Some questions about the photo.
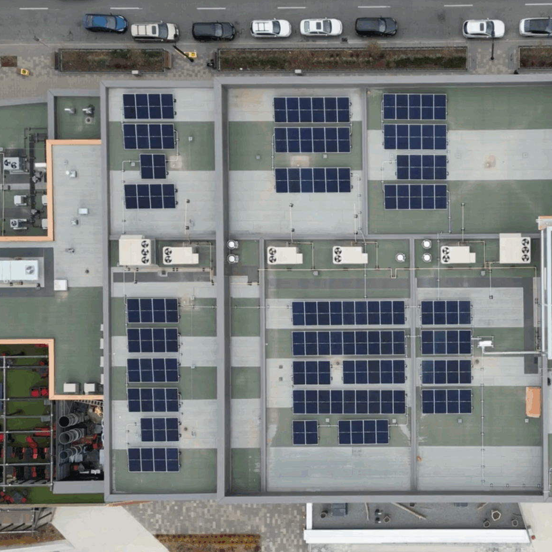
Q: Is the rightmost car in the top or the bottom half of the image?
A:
top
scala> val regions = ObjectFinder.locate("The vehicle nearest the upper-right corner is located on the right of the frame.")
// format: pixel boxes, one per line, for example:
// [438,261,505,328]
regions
[519,16,552,38]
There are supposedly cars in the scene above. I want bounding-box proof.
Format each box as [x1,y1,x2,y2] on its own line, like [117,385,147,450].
[462,18,505,40]
[519,16,552,38]
[130,20,180,43]
[249,18,293,40]
[191,20,236,42]
[299,17,344,39]
[354,16,398,38]
[82,12,129,34]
